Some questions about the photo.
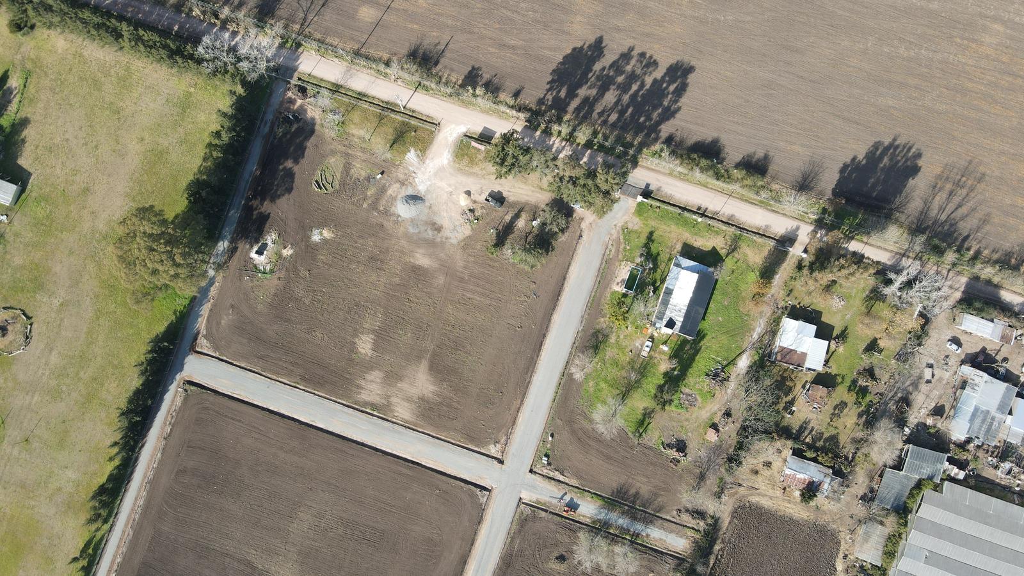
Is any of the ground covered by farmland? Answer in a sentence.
Yes, some farmland is visible.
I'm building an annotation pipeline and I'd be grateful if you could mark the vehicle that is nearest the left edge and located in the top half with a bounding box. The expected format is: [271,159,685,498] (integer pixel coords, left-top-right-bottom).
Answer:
[483,192,502,208]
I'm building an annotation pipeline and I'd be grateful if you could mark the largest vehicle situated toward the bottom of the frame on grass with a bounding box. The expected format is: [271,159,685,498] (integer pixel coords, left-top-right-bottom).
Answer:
[640,339,653,359]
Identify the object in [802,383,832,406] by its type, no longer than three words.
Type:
shed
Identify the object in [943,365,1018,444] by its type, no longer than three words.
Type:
house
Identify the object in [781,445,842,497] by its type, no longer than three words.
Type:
shed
